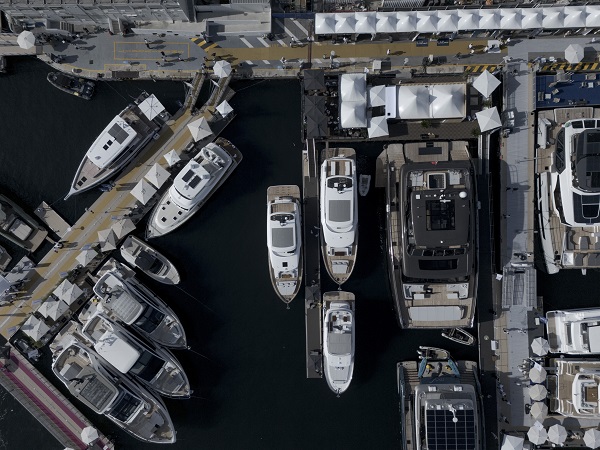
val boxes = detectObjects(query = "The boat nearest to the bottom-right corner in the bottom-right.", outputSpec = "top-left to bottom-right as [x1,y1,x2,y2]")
[546,361,600,418]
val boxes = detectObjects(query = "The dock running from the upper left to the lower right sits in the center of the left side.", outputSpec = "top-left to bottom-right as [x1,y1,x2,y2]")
[35,201,72,238]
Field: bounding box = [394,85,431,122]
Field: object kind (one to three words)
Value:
tent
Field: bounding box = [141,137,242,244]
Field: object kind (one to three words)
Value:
boat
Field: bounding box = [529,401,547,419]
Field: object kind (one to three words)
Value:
umbrella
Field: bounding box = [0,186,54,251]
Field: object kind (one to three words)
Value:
boat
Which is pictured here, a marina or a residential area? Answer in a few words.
marina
